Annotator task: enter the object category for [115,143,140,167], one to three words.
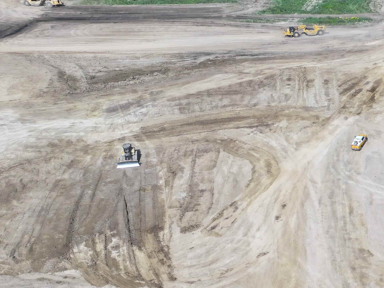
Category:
work vehicle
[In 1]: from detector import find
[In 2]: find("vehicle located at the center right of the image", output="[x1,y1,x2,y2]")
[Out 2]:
[350,134,368,150]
